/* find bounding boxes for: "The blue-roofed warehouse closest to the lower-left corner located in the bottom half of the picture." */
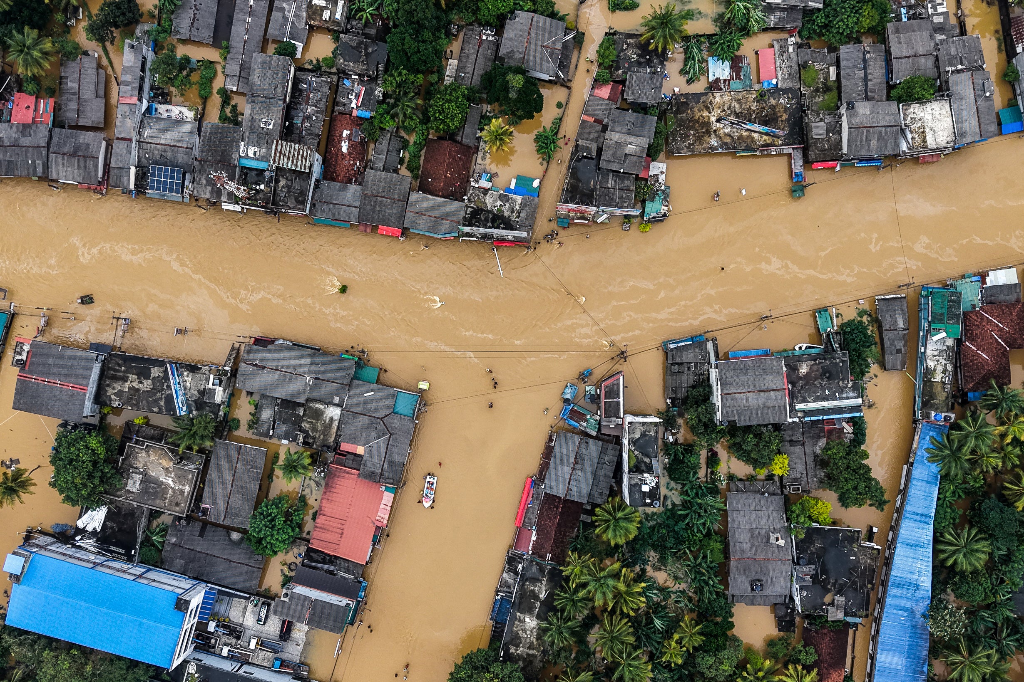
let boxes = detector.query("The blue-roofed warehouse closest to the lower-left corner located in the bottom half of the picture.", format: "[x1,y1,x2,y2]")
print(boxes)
[4,540,209,669]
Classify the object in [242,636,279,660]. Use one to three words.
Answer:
truck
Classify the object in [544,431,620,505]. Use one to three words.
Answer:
building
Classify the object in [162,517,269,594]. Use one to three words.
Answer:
house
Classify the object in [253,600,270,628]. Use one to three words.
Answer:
vehicle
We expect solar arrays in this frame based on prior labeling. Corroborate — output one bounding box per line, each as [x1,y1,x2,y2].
[148,164,185,194]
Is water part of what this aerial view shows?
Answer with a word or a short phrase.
Yes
